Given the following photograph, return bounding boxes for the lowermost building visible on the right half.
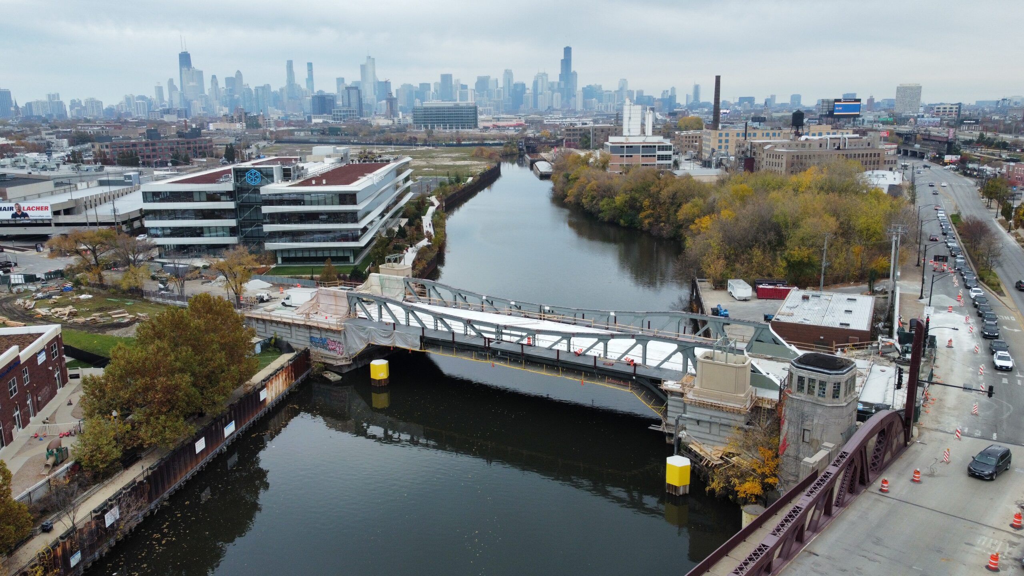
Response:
[782,344,878,498]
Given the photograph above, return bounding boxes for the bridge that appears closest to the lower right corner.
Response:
[688,414,1024,576]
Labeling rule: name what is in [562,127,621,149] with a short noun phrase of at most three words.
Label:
building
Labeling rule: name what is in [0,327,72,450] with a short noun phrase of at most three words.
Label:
building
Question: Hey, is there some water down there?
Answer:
Yes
